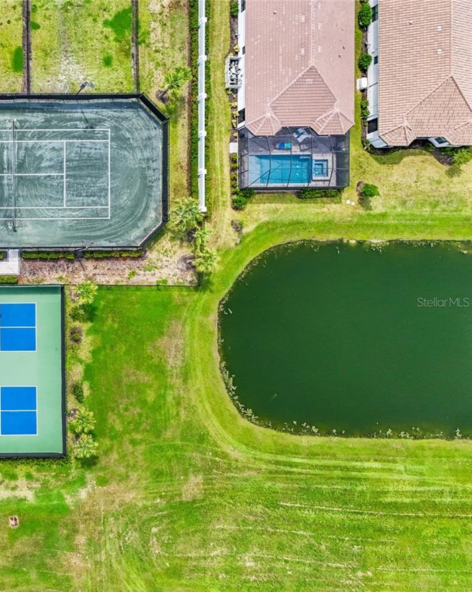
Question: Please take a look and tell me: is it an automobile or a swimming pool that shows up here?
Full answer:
The one in the frame is a swimming pool.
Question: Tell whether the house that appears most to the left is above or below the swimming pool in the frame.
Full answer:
You can see the house that appears most to the left above the swimming pool in the frame.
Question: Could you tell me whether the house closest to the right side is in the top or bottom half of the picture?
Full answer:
Seen from above, the house closest to the right side lies in the top half of the view.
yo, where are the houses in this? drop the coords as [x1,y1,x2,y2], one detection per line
[238,0,355,136]
[367,0,472,147]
